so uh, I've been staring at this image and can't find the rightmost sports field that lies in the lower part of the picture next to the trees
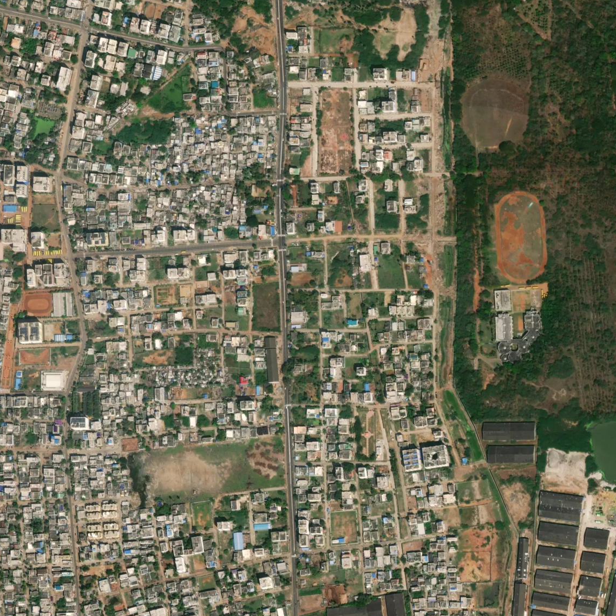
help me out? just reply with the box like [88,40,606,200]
[333,511,358,543]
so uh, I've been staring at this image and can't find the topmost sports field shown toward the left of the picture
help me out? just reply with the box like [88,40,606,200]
[34,205,60,231]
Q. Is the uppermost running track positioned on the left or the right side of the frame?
right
